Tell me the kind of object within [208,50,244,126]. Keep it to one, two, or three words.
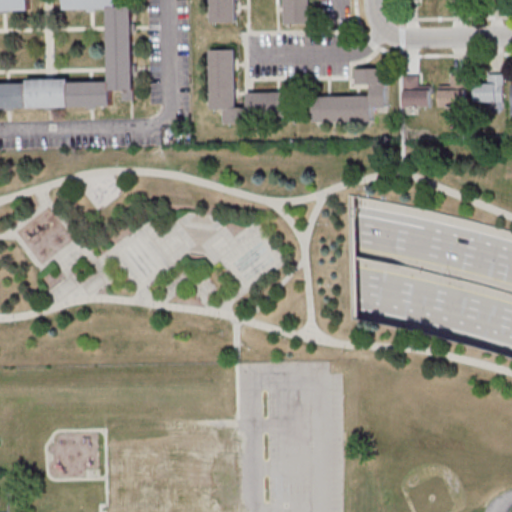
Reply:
building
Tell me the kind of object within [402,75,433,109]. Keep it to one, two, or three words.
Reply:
house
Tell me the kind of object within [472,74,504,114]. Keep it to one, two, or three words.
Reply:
house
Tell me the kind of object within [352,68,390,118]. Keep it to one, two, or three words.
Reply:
building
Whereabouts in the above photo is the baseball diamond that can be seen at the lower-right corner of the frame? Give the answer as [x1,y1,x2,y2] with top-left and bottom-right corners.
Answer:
[403,464,466,512]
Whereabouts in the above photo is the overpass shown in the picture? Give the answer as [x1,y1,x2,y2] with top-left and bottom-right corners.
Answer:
[348,194,410,319]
